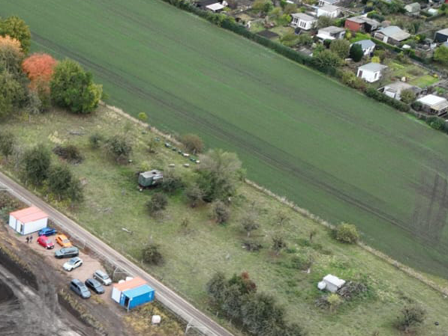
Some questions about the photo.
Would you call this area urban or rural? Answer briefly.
rural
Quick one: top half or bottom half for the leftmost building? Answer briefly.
bottom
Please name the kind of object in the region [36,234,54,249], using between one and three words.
car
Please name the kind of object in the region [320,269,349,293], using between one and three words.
shed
